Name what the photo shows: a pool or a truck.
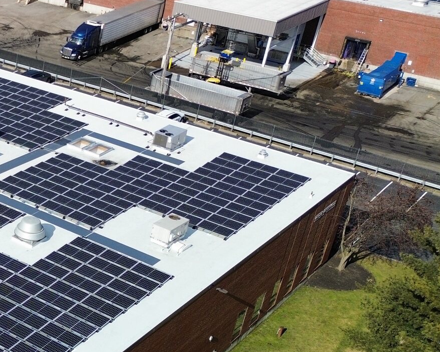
truck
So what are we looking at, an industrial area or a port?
industrial area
